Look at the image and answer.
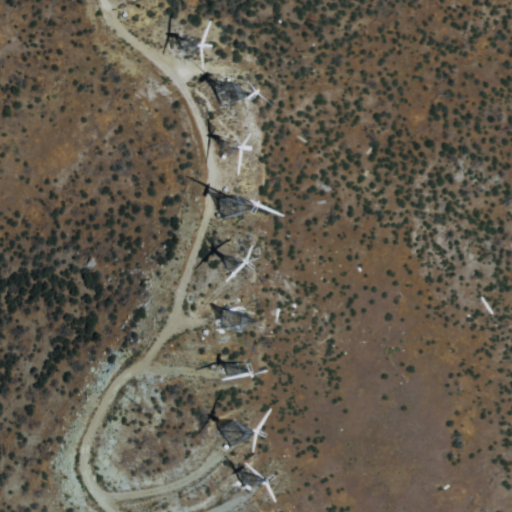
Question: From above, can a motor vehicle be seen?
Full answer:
No, no motor vehicle can be seen from above.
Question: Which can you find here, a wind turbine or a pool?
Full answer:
Visible in the photo is a wind turbine.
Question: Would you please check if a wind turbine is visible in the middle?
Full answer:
Yes, a wind turbine appears in the middle.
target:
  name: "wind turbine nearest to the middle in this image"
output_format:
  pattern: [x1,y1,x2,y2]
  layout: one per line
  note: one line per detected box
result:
[222,245,260,282]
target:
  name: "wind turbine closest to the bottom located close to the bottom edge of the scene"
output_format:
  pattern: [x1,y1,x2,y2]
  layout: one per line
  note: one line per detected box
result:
[242,464,276,502]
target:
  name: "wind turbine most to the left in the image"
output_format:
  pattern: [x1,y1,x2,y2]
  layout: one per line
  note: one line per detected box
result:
[178,20,214,70]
